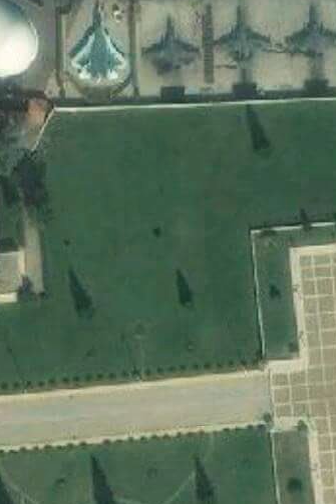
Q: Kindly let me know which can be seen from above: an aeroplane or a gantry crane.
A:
aeroplane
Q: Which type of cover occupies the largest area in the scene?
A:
grass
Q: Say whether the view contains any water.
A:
No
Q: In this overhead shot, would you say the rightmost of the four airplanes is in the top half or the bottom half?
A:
top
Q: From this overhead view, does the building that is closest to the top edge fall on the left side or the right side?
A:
left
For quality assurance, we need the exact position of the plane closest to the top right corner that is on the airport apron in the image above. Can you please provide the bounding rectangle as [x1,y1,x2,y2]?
[287,7,336,59]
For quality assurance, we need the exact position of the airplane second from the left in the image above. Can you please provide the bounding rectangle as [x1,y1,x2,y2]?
[143,16,200,75]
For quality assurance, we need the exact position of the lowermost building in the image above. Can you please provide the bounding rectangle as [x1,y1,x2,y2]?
[0,251,24,302]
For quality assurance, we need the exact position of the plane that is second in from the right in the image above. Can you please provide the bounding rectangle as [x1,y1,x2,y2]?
[215,6,272,62]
